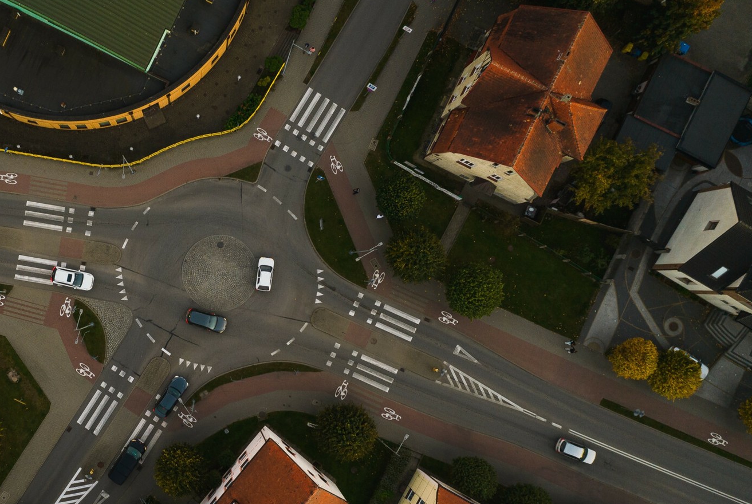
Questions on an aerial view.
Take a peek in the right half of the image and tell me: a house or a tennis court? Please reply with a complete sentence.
You can see a house in the right half of the image.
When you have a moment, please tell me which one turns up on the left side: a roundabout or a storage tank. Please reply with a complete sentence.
The one visible on the left side is a roundabout.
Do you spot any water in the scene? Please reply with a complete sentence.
No, the scene doesn't show any water.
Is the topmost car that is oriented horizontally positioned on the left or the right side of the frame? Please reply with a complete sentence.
The topmost car that is oriented horizontally is on the left side of the image.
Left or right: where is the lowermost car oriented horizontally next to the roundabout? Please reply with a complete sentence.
The lowermost car oriented horizontally next to the roundabout appears in the left half of the scene.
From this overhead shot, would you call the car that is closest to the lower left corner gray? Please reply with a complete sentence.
No, the car that is closest to the lower left corner is actually black.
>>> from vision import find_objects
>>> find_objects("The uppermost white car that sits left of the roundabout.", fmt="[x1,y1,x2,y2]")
[50,266,96,289]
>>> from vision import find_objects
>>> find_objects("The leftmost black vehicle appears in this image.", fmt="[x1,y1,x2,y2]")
[108,436,145,488]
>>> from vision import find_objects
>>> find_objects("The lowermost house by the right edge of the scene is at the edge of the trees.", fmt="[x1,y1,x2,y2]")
[652,182,752,329]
